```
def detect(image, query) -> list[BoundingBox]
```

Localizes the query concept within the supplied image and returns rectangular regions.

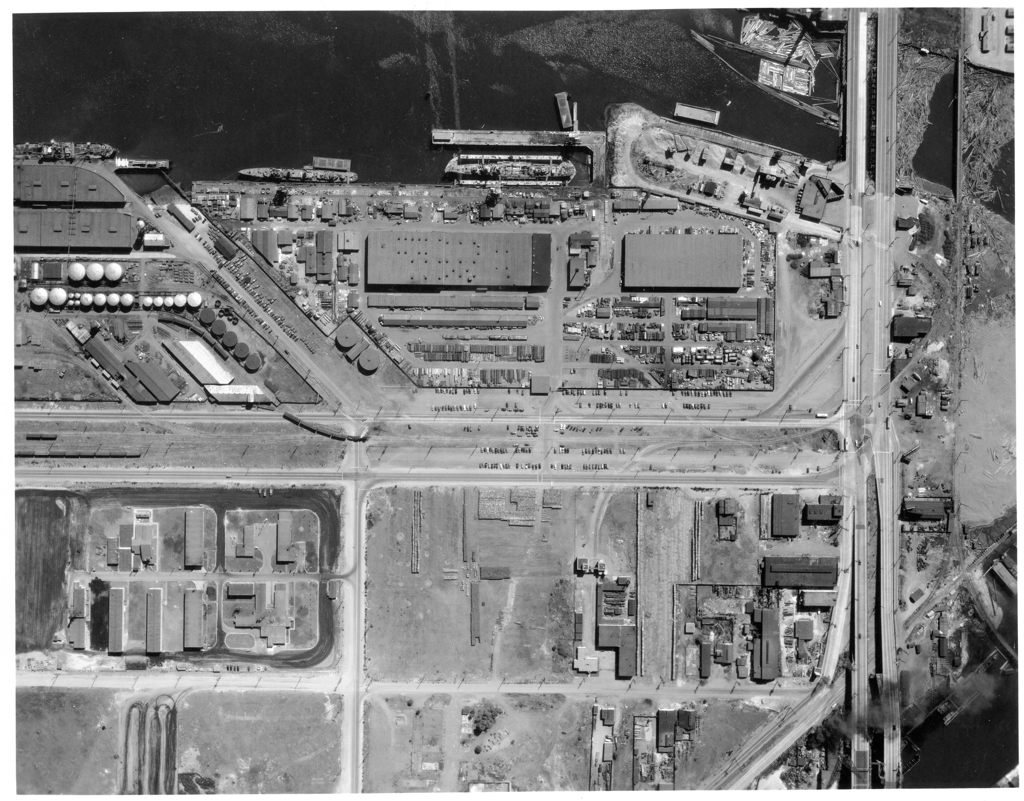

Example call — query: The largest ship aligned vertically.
[555,91,572,129]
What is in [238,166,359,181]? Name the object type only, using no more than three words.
ship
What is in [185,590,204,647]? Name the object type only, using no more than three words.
building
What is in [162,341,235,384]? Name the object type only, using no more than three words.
shed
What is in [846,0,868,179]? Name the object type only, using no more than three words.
bridge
